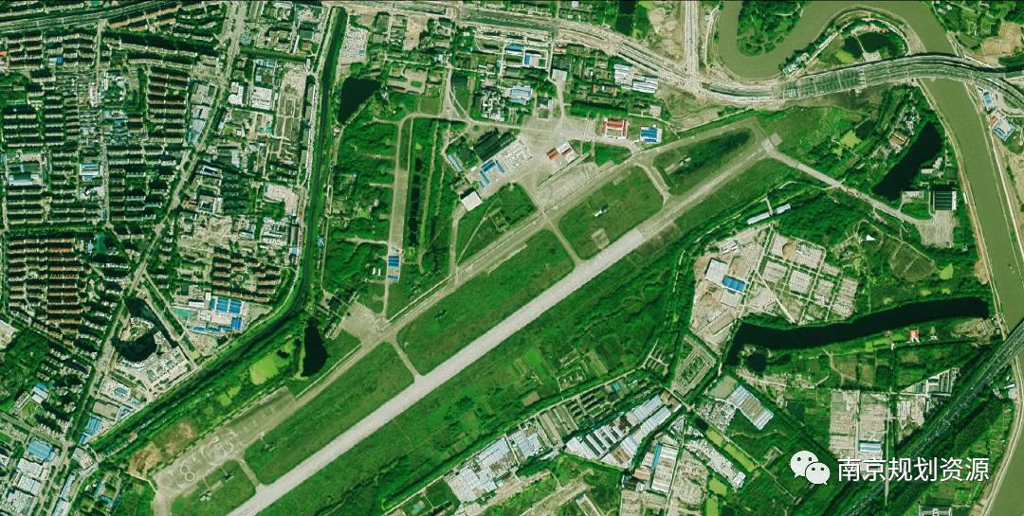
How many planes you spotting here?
zero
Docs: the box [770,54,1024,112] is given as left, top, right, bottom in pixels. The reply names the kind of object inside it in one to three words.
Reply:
bridge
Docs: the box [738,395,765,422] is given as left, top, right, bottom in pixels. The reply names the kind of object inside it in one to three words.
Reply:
greenhouse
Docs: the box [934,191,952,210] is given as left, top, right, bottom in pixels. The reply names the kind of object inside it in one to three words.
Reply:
hangar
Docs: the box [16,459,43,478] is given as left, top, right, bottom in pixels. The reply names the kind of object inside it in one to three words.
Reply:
building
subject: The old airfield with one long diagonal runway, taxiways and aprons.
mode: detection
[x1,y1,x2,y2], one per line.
[149,107,956,516]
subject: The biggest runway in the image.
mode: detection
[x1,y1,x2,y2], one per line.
[247,128,774,515]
